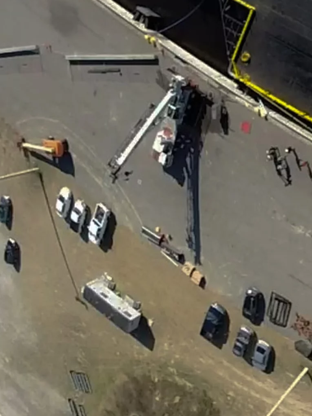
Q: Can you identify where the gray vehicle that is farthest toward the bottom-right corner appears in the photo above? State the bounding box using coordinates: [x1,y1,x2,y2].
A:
[251,336,275,371]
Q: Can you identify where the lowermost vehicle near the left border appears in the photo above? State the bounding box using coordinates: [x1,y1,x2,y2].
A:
[2,236,26,266]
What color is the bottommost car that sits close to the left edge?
black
